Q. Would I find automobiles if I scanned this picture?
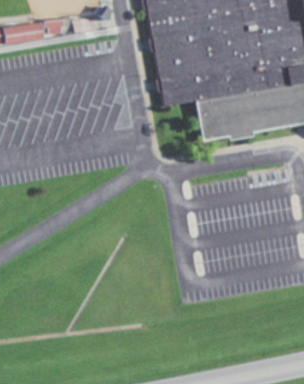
No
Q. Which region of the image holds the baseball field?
top left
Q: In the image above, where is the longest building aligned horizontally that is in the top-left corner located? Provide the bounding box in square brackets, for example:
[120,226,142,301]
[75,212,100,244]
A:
[2,22,44,44]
